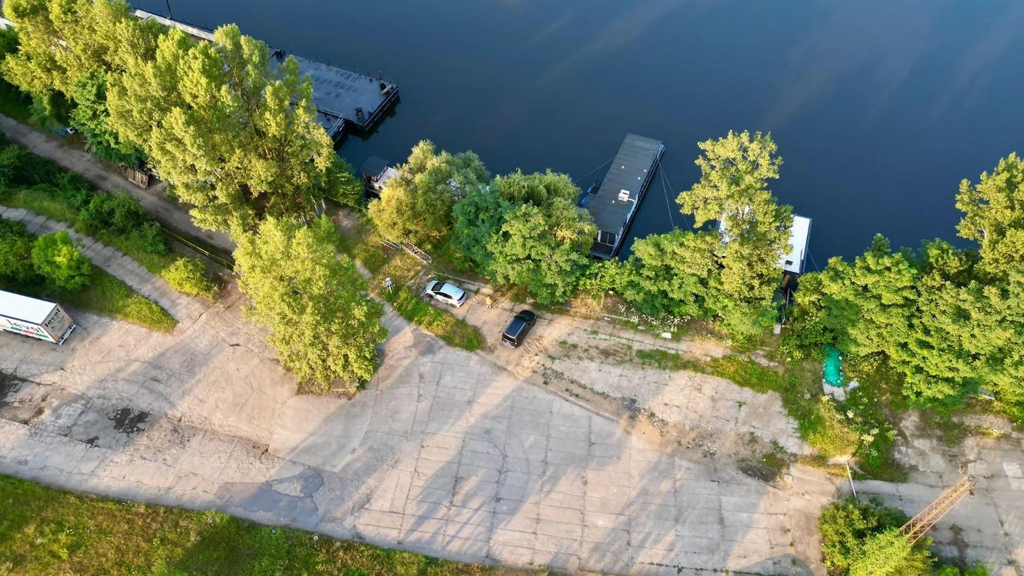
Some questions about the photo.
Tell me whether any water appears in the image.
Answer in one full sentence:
Yes, some water is visible.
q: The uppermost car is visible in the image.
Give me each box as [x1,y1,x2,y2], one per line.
[422,276,470,307]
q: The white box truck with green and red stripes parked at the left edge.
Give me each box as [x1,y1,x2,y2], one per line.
[0,288,79,346]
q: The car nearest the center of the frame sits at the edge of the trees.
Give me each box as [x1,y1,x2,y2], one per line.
[499,302,540,347]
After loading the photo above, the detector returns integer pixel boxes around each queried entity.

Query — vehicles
[422,276,470,307]
[0,288,79,346]
[499,302,540,347]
